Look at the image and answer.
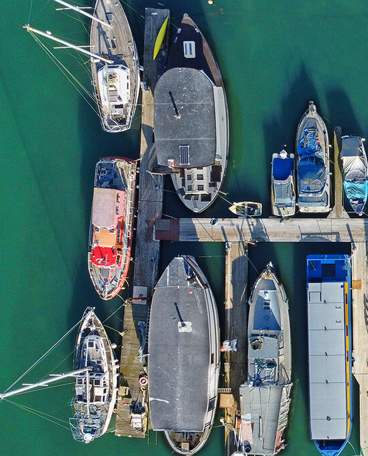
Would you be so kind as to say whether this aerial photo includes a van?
No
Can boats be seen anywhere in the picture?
Yes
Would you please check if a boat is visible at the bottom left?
Yes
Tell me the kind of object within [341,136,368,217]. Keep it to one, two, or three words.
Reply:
boat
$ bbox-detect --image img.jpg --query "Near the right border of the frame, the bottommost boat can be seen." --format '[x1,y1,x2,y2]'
[308,256,358,456]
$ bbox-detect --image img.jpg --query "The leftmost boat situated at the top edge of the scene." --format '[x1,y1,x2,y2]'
[24,0,148,135]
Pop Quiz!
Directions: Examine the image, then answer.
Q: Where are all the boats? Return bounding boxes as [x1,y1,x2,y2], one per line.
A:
[24,0,148,135]
[85,157,142,302]
[142,256,225,456]
[240,257,293,456]
[148,14,236,213]
[308,256,358,456]
[228,202,263,216]
[292,100,336,220]
[341,136,368,217]
[271,144,298,219]
[0,305,124,447]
